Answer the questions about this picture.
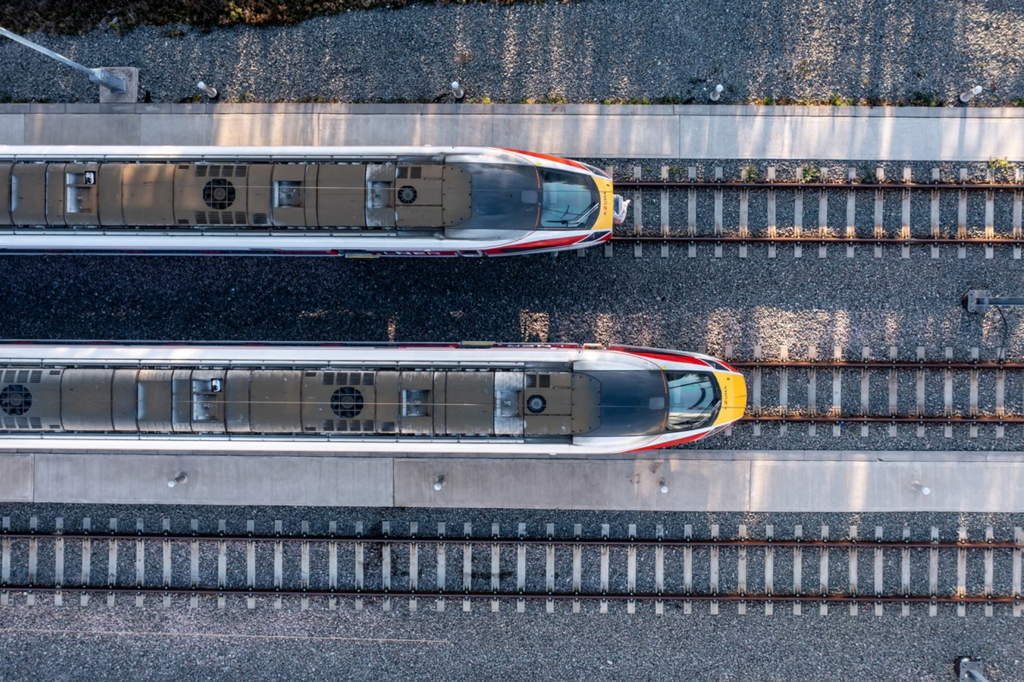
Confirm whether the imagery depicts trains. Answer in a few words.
Yes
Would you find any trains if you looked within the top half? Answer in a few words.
Yes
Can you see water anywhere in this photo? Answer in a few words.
No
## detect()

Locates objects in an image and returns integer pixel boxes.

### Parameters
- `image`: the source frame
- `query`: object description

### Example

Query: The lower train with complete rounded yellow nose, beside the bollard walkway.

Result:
[0,339,748,452]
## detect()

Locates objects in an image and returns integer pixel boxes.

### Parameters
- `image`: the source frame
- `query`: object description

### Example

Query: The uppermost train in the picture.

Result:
[0,146,634,259]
